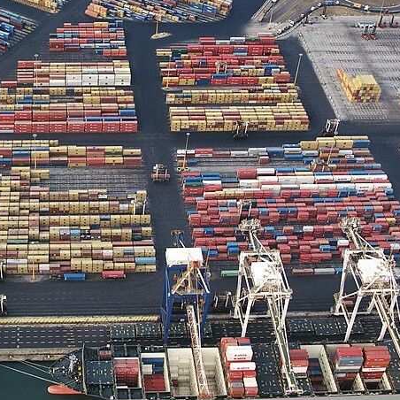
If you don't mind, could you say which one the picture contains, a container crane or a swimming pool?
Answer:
container crane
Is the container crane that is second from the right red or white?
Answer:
white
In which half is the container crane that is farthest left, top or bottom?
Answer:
bottom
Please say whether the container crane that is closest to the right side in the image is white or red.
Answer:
white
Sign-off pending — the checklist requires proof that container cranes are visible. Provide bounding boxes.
[337,217,400,353]
[156,213,216,397]
[233,219,301,388]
